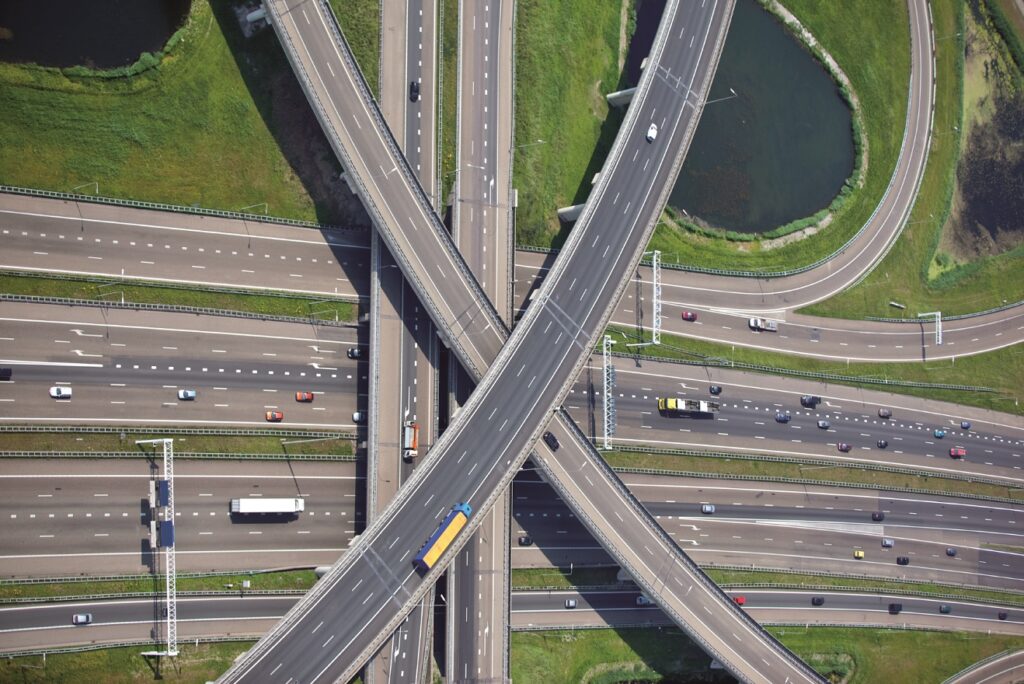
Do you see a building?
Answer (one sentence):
No, the frame has no building in it.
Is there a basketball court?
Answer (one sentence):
No, no basketball court can be seen from above.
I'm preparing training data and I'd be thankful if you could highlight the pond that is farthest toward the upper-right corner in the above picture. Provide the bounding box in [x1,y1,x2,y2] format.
[931,0,1024,277]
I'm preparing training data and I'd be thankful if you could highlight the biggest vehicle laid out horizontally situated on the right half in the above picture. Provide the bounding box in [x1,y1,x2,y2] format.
[658,399,720,414]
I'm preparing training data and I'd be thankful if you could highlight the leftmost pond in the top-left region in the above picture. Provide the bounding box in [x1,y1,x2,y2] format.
[0,0,189,76]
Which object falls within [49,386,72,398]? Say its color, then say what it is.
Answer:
white vehicle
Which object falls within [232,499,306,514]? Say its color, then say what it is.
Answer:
white vehicle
